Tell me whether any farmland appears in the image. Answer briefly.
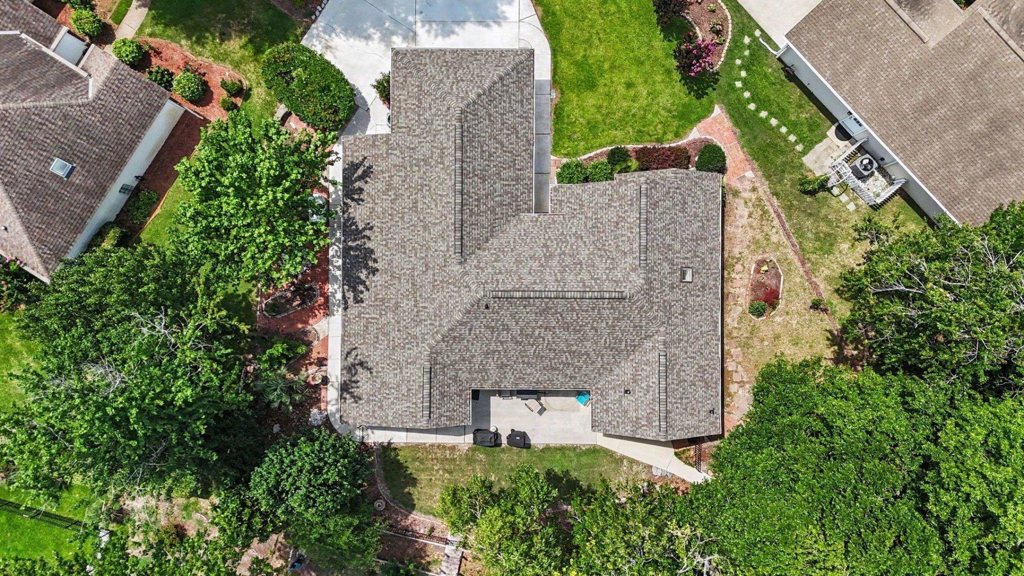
No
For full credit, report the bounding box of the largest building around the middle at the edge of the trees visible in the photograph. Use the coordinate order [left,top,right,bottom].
[339,48,721,442]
